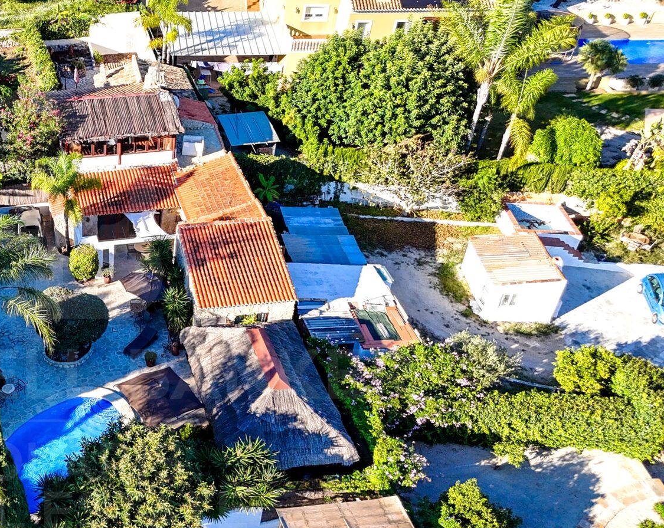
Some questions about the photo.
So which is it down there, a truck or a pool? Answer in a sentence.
I can see a pool in this picture.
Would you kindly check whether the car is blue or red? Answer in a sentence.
The car looks blue in the image.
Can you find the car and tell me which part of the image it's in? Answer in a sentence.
The car is located in the right region of the scene.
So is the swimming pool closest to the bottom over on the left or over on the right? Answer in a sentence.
The swimming pool closest to the bottom sits on the left side.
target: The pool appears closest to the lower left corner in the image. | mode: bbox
[6,387,131,525]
